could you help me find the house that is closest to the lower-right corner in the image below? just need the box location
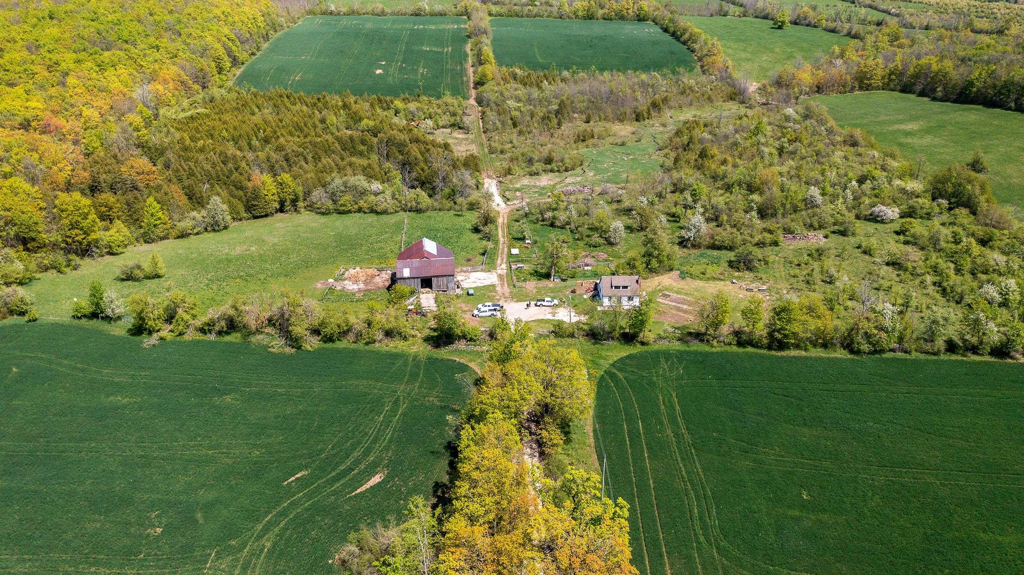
[597,273,644,310]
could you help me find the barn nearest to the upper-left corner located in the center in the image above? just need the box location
[395,237,456,293]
